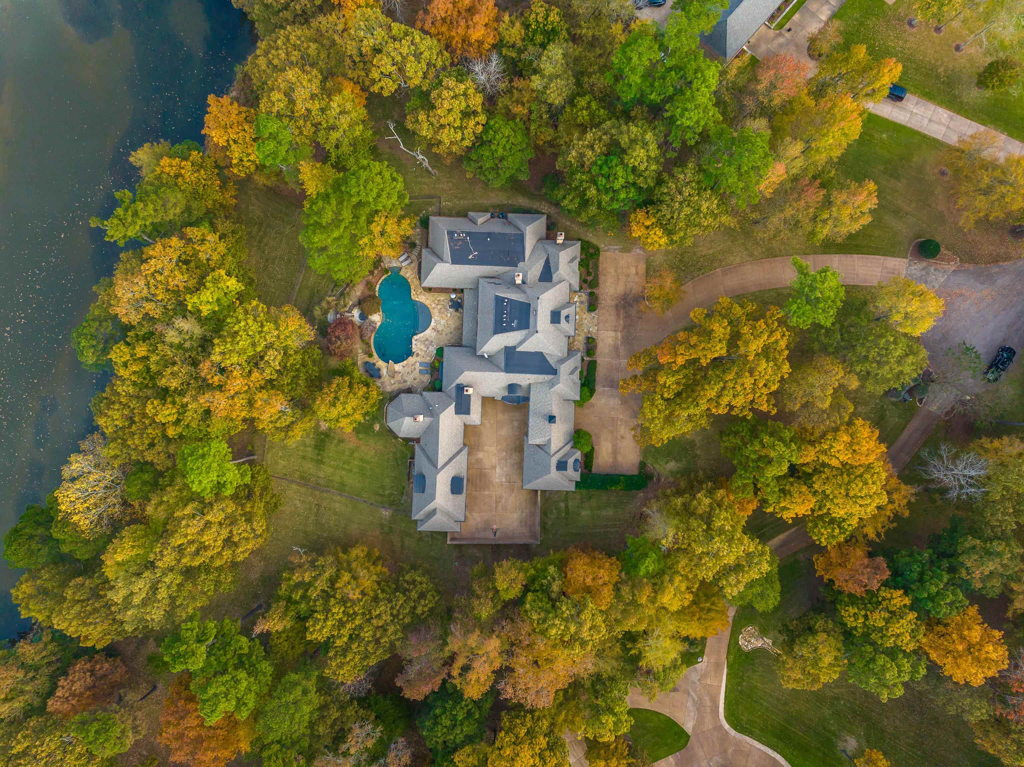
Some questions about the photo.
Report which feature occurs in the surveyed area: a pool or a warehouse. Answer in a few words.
pool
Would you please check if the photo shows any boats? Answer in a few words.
No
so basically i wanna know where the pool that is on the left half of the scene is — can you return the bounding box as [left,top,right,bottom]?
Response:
[373,273,432,364]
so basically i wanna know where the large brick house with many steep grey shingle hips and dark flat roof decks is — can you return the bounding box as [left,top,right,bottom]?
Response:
[386,212,581,532]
